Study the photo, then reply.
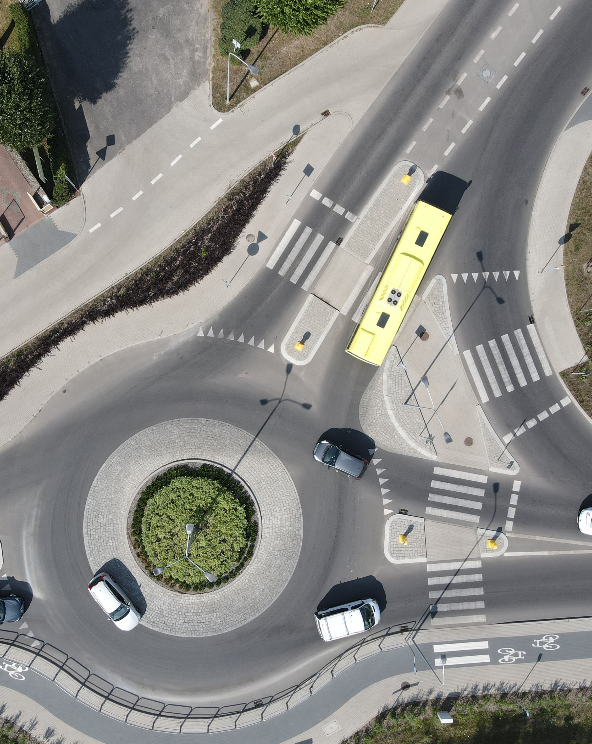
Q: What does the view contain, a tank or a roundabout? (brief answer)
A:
roundabout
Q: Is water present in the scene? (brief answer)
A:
No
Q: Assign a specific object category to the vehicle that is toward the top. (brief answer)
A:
bus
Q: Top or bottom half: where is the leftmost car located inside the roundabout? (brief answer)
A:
bottom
